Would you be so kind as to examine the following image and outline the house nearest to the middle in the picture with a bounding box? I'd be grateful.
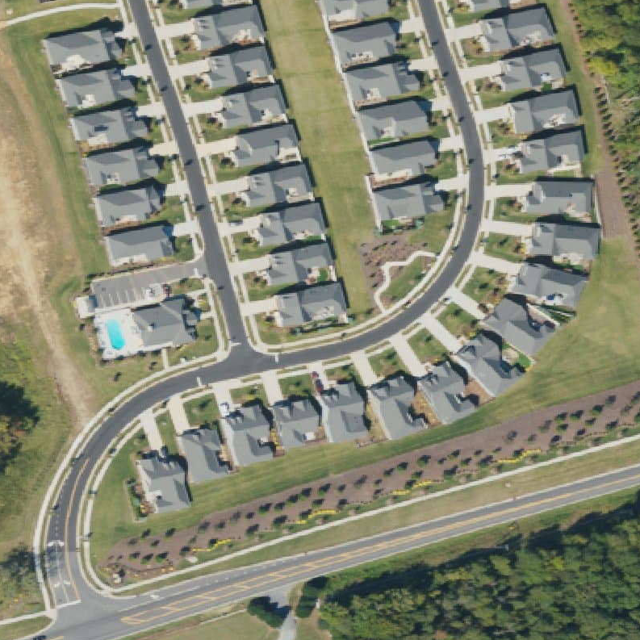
[273,284,346,326]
